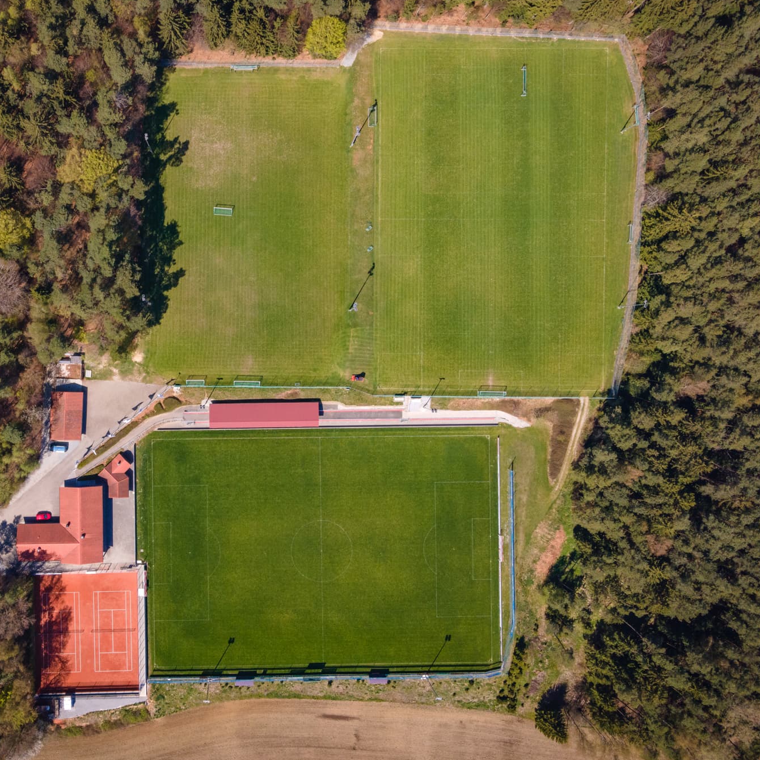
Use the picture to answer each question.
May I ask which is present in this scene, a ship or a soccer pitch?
soccer pitch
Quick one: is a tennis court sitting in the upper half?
No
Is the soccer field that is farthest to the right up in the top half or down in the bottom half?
top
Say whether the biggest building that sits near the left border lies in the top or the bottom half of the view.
bottom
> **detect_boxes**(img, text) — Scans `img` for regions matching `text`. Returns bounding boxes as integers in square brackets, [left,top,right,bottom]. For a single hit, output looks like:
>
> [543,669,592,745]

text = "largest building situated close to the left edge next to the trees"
[17,485,103,565]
